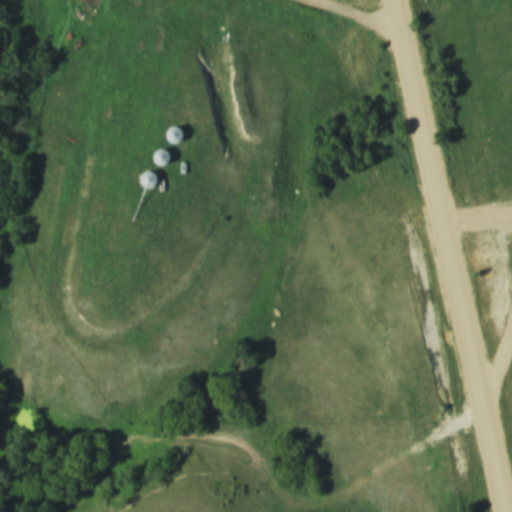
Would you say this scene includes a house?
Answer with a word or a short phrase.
No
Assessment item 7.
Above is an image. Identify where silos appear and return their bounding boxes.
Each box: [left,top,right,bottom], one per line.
[139,170,158,189]
[166,126,184,144]
[152,148,170,167]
